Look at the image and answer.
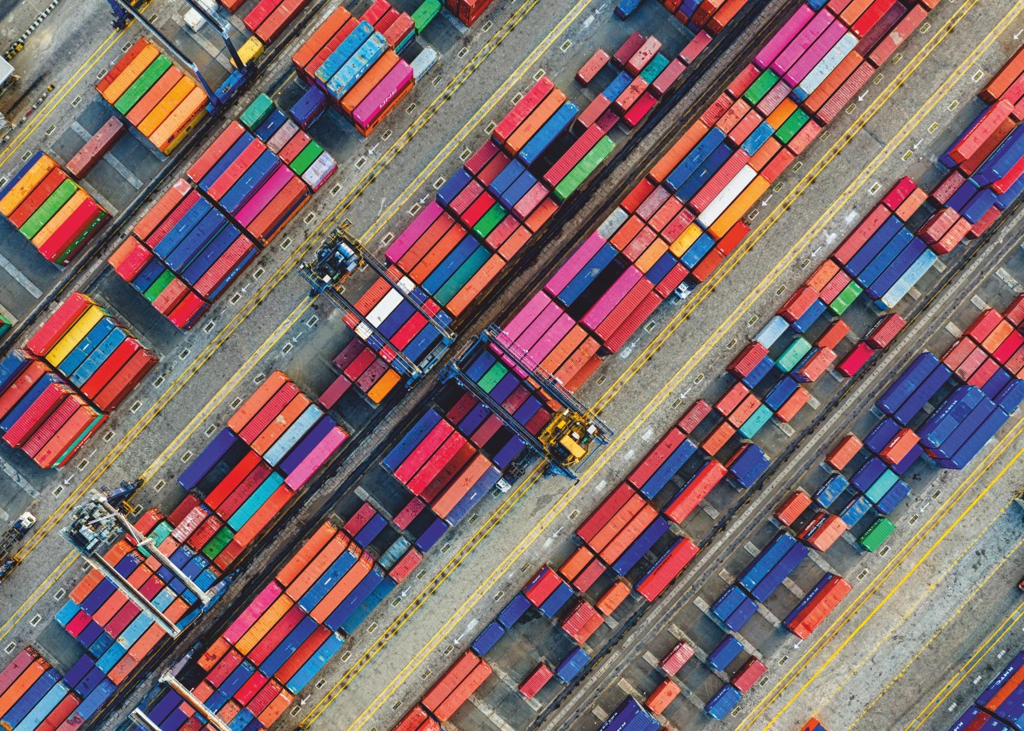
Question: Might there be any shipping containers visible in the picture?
Yes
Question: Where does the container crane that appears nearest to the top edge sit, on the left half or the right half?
left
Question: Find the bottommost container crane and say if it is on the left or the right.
left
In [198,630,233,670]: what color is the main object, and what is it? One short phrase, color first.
red shipping container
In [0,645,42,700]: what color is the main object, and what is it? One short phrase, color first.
pink shipping container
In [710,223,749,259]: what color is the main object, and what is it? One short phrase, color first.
red shipping container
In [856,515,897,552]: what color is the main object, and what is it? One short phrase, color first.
green shipping container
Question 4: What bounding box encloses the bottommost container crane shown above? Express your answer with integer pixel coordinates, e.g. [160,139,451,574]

[127,629,244,731]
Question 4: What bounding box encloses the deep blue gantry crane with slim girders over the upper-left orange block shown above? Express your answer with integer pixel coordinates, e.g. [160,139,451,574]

[105,0,259,121]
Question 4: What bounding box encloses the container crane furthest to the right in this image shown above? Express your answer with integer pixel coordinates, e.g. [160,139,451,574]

[430,320,616,487]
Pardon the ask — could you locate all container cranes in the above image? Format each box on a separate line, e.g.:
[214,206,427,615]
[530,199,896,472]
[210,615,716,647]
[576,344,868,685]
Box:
[290,217,467,399]
[127,629,244,731]
[50,471,249,646]
[105,0,259,121]
[430,320,616,487]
